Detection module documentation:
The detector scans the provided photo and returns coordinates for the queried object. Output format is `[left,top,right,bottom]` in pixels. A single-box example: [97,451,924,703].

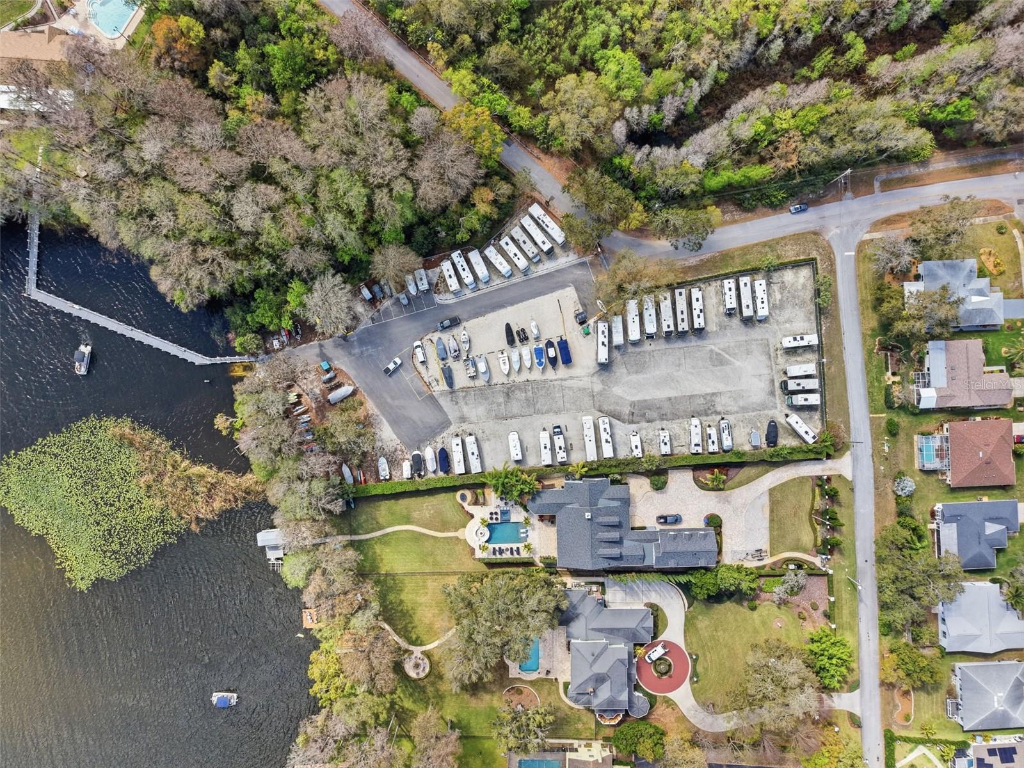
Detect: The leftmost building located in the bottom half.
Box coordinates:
[255,527,289,573]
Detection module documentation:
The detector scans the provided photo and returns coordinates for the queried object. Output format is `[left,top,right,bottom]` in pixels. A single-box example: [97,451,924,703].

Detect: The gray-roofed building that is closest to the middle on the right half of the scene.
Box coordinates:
[527,479,720,571]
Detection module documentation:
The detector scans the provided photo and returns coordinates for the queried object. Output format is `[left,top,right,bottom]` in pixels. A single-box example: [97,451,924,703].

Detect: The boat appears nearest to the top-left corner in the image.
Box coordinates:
[73,342,93,375]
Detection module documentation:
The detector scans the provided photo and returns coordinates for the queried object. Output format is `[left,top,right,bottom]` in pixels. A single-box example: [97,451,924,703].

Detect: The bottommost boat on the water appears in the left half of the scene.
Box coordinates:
[212,691,241,708]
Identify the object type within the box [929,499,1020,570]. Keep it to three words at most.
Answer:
house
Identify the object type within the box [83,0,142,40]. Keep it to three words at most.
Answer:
swimming pool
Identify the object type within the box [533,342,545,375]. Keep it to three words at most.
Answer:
boat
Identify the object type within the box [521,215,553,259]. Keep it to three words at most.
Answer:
camper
